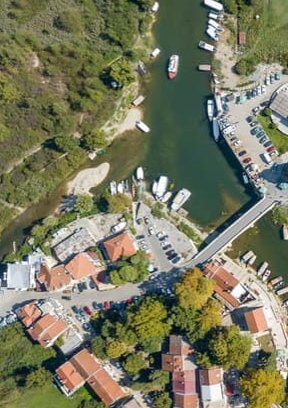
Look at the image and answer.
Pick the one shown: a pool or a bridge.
bridge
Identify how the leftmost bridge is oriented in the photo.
on a diagonal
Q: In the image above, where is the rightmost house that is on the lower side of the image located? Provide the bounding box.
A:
[246,306,269,333]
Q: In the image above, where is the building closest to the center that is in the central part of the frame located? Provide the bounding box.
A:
[105,231,140,261]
